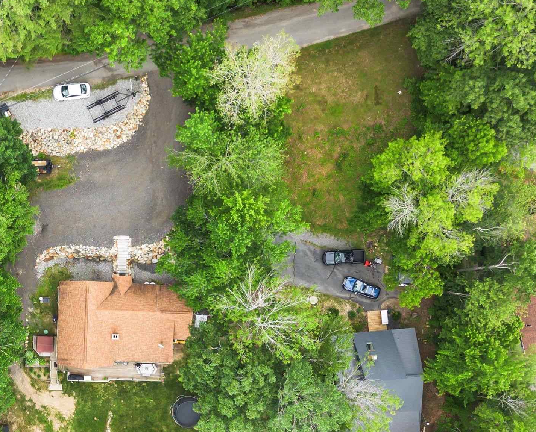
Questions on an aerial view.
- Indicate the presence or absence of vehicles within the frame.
Yes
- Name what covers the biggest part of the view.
trees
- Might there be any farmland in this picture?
No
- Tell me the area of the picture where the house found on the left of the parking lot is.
bottom left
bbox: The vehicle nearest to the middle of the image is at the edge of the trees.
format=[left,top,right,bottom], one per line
[323,247,369,265]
